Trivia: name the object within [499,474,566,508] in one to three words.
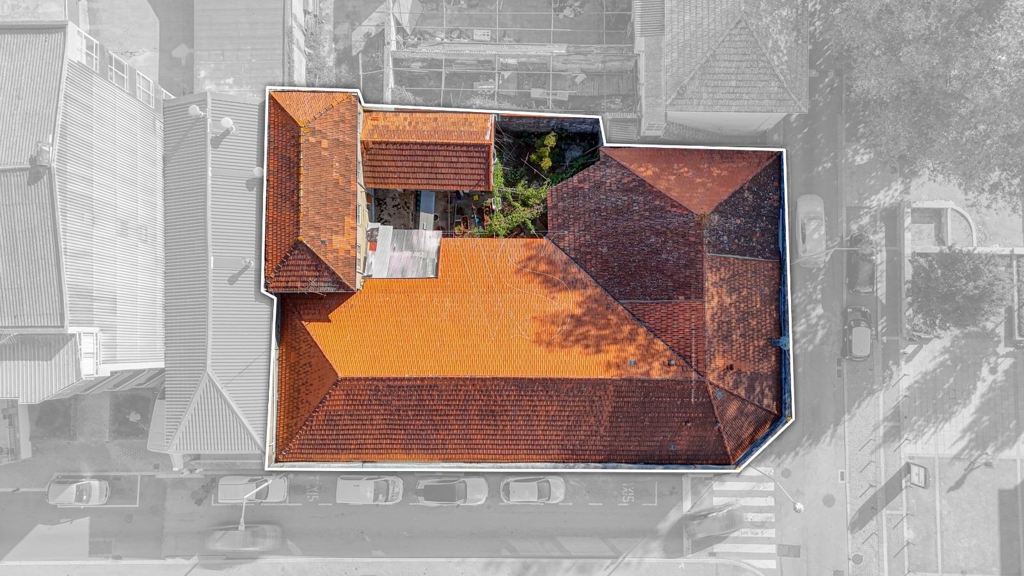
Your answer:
car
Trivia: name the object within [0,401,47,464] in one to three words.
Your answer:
building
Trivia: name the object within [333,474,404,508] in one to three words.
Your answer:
van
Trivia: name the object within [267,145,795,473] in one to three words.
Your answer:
house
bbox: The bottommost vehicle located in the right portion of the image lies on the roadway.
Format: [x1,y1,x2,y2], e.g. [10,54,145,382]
[677,499,750,542]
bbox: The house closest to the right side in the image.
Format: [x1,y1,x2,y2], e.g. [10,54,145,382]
[655,0,810,130]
